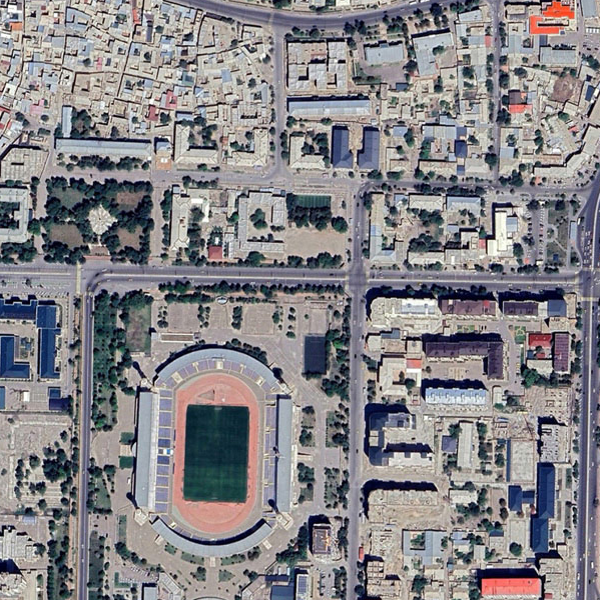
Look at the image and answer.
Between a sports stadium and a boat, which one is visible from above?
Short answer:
sports stadium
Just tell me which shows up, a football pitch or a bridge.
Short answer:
football pitch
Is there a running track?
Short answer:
Yes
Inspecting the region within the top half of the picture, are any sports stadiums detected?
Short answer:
No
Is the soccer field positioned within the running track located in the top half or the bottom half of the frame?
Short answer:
bottom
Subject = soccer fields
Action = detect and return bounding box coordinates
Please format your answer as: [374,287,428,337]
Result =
[297,195,330,207]
[185,406,249,502]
